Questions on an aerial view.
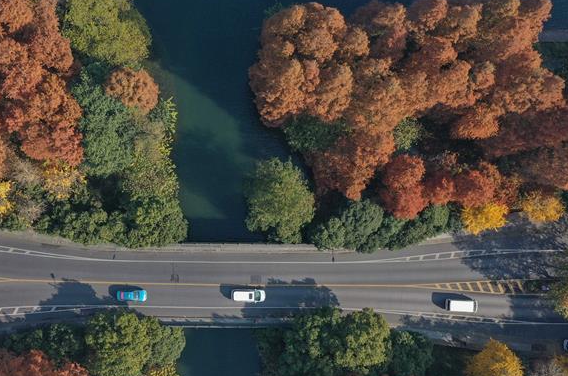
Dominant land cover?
trees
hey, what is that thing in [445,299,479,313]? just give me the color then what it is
white vehicle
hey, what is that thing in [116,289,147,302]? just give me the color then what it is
blue vehicle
